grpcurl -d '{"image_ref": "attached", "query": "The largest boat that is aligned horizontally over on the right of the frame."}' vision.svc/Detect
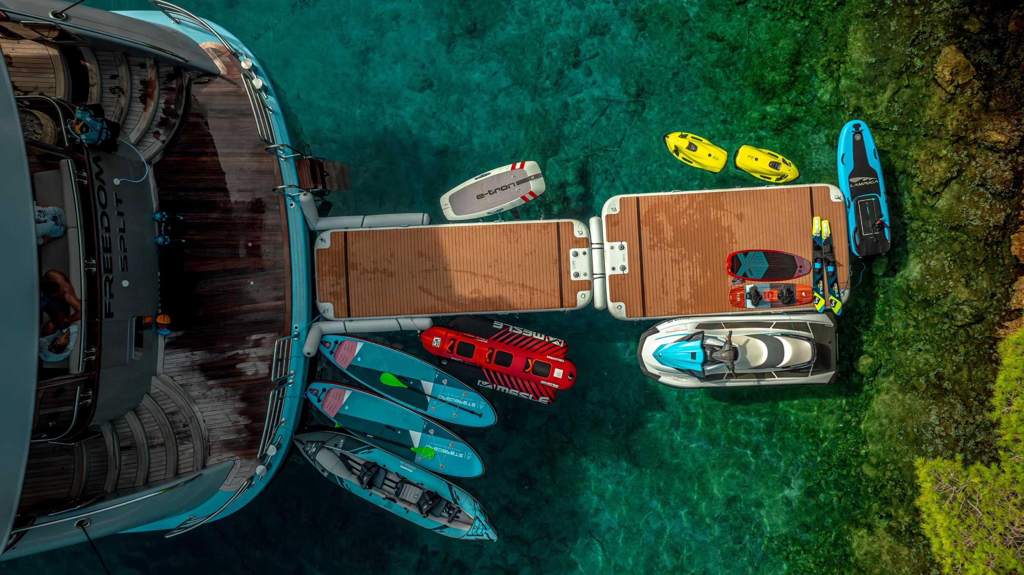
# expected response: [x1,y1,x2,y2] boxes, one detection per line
[632,311,839,388]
